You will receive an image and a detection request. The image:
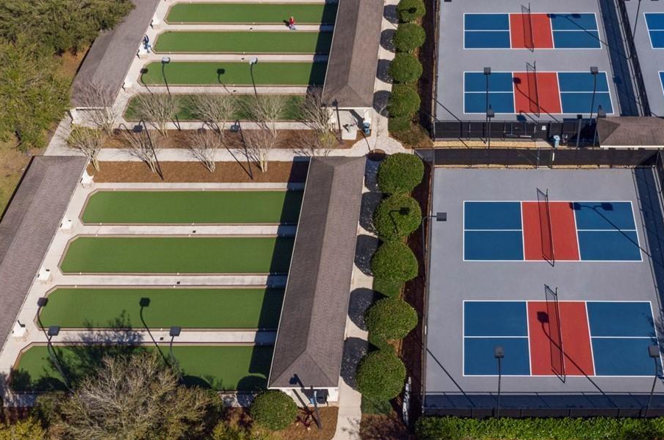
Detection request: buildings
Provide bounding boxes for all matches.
[0,154,94,357]
[319,0,388,131]
[63,0,174,131]
[266,155,367,402]
[595,116,664,149]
